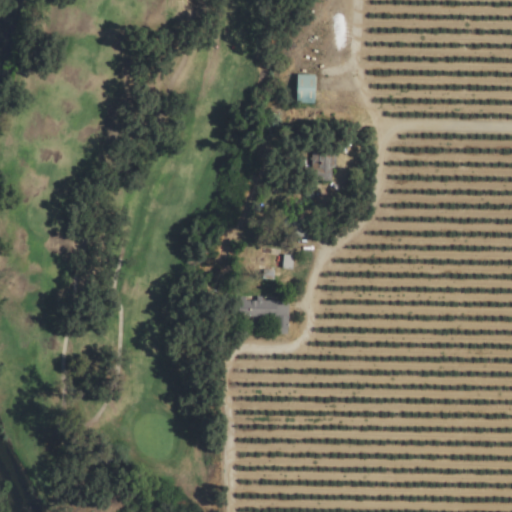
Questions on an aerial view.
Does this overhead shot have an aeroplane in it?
No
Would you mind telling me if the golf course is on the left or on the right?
left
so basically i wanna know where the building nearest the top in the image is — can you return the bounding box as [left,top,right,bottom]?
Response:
[297,74,317,102]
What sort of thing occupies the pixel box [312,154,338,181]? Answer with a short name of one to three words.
house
